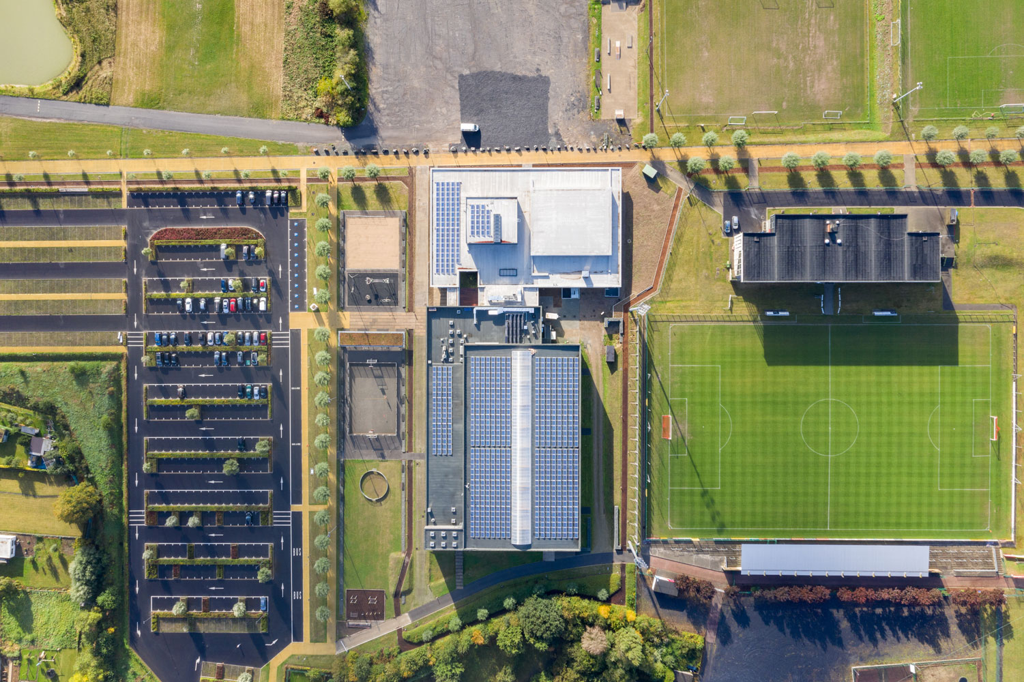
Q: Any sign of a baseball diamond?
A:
No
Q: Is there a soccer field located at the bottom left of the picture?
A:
No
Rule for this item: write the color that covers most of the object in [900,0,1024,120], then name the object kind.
green soccer field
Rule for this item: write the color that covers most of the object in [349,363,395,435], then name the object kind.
gray sports court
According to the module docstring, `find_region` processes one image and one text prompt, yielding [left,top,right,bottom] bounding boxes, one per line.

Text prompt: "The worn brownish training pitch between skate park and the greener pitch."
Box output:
[656,0,871,127]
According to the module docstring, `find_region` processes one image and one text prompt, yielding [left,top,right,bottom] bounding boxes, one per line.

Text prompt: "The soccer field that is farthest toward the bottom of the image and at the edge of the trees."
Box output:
[648,315,1013,541]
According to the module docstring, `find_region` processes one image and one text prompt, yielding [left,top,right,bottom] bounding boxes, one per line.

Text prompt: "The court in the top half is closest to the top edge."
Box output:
[346,216,400,269]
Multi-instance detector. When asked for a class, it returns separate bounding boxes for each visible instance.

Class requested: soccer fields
[656,0,871,127]
[900,0,1024,120]
[648,315,1013,541]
